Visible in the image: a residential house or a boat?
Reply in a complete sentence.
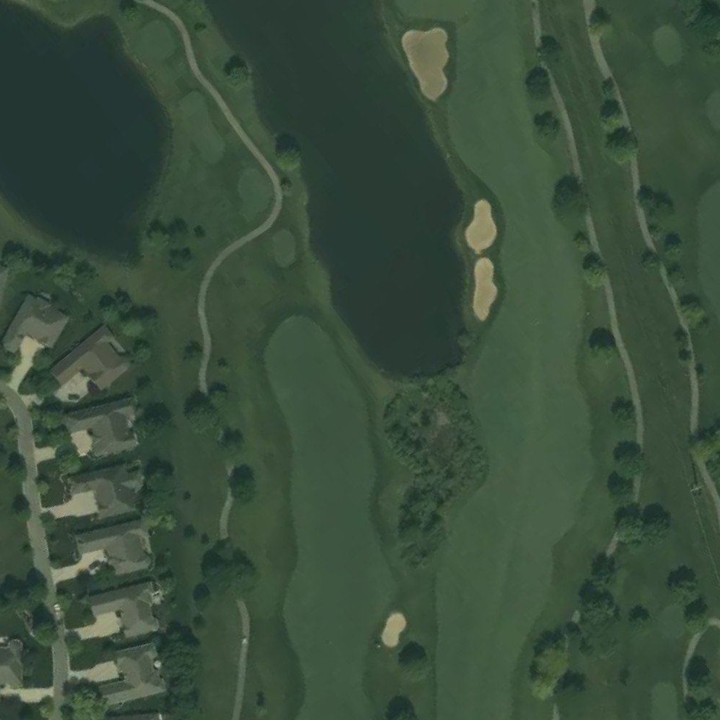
It is a residential house that can be seen here.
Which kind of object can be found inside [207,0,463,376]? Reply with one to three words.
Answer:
pond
